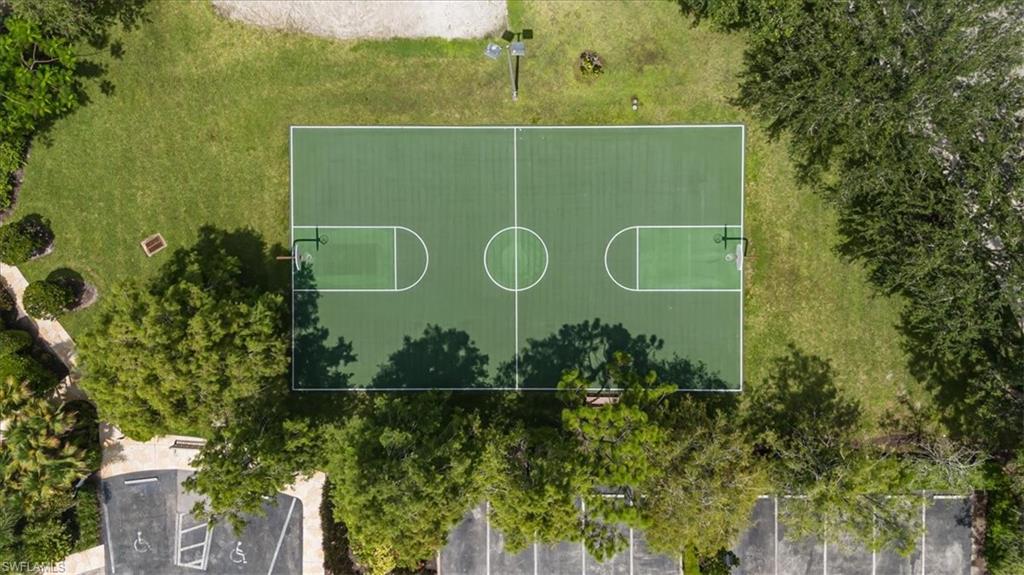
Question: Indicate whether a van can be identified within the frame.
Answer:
No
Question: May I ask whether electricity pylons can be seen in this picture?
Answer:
No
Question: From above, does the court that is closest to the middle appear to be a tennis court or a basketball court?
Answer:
basketball court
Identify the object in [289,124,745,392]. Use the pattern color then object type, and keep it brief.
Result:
green basketball court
